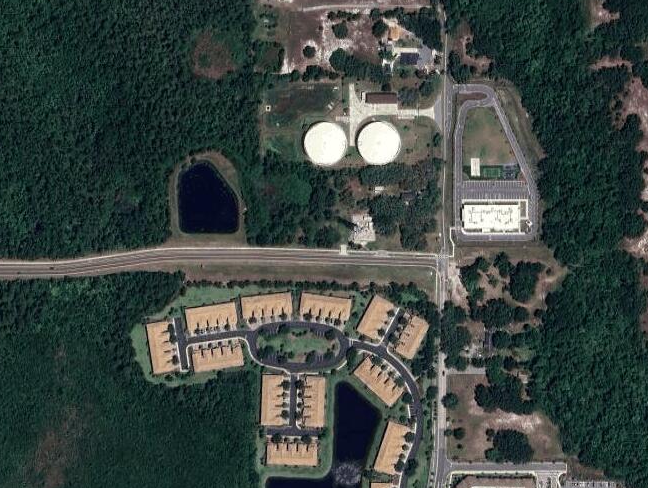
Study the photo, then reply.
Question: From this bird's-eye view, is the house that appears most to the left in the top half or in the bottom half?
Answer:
bottom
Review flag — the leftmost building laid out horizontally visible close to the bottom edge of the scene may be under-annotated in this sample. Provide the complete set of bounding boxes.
[266,441,317,466]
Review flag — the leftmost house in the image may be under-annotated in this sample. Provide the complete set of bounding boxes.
[146,320,178,374]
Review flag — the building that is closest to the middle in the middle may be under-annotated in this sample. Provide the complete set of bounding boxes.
[354,217,373,240]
